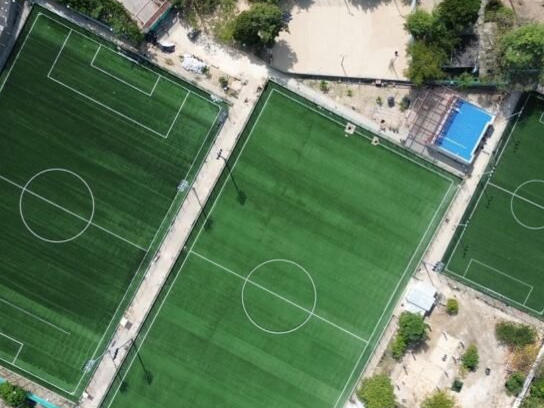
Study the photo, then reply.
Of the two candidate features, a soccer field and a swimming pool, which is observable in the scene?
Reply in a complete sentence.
The one in the frame is a soccer field.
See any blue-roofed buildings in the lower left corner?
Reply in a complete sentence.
No, there's no blue-roofed building to be seen in the lower left corner.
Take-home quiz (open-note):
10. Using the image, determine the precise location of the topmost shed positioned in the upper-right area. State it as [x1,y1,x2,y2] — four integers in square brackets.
[447,53,474,69]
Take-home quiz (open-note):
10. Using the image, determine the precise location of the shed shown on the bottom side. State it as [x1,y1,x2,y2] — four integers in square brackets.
[405,280,438,311]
